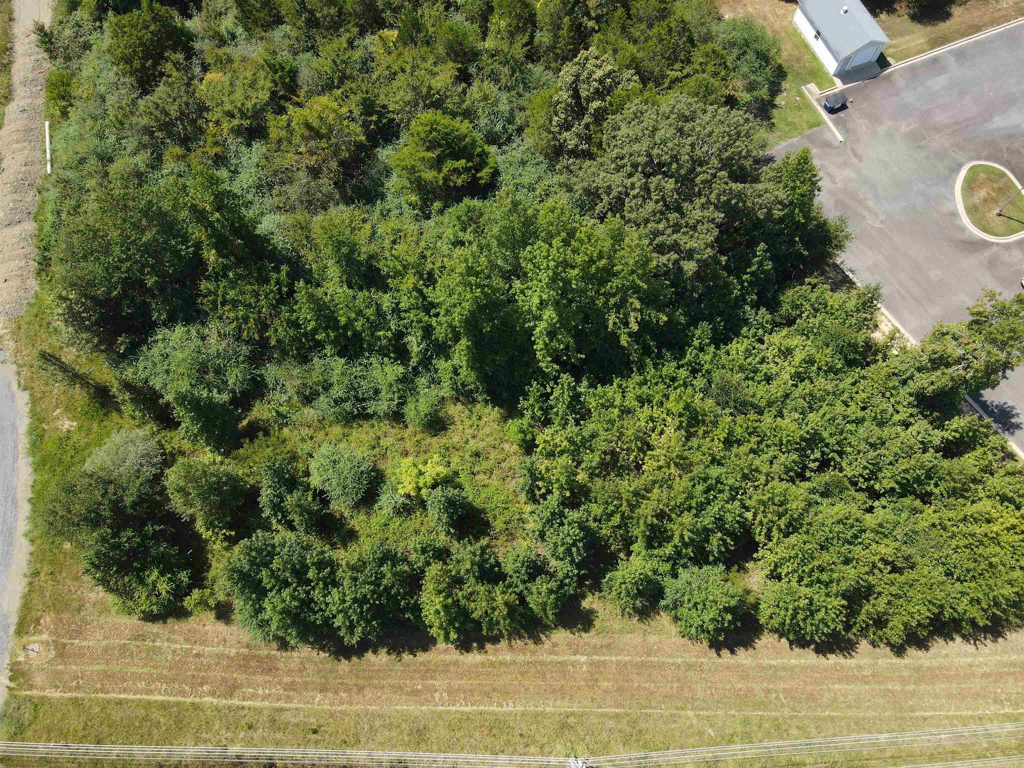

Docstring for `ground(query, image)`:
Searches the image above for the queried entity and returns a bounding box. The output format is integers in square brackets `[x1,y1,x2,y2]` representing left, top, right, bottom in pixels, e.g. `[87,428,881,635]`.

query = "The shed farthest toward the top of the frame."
[788,0,893,76]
